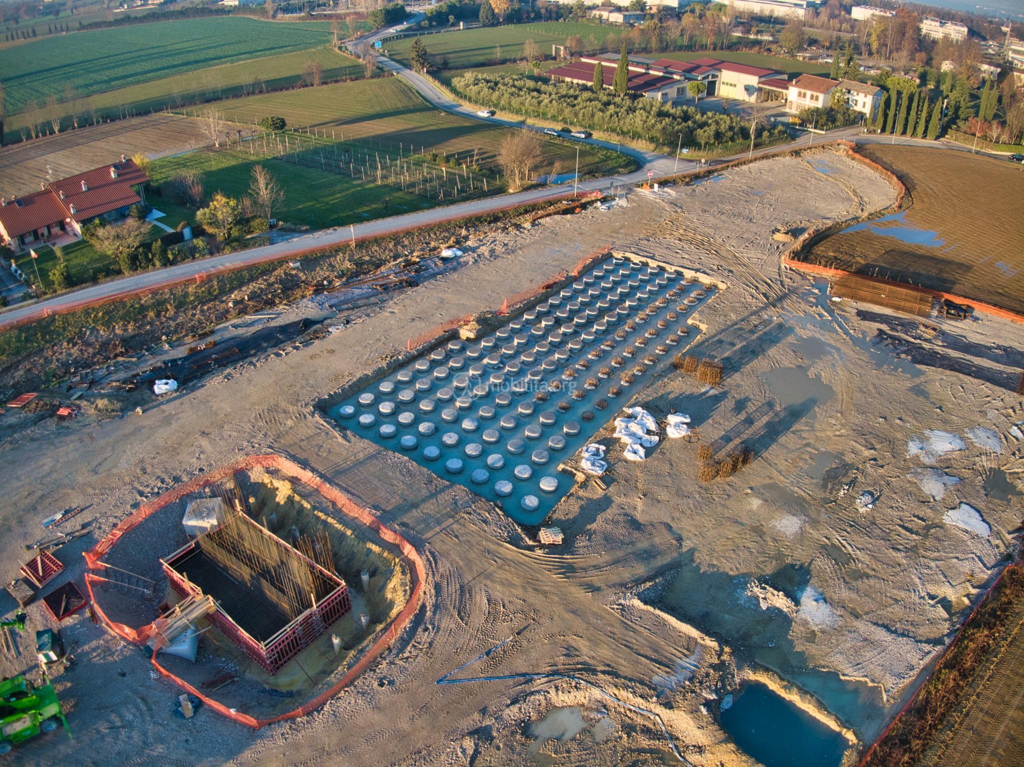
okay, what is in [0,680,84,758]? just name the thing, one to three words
work vehicle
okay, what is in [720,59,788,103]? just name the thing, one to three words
building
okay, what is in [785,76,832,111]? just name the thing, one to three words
house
